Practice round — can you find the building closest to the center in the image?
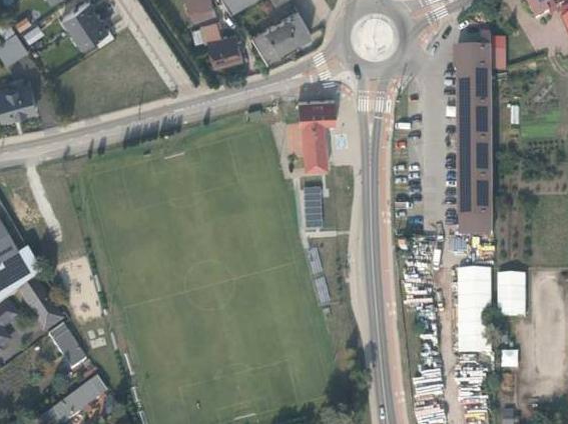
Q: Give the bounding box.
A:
[303,185,322,230]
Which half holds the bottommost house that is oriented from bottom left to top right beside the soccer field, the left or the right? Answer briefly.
left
